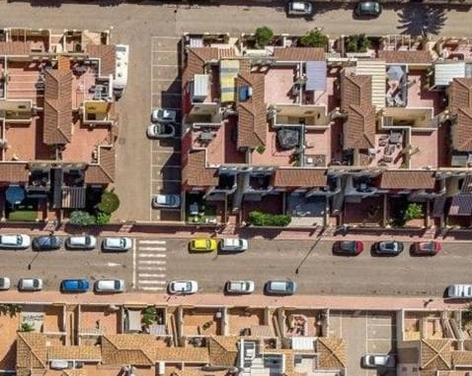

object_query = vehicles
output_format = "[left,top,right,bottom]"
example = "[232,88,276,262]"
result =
[219,238,247,253]
[103,237,131,251]
[373,240,401,255]
[115,43,135,97]
[265,280,294,295]
[34,235,61,250]
[333,240,361,255]
[148,122,176,138]
[169,280,196,295]
[410,240,439,255]
[353,1,382,16]
[190,238,215,252]
[62,278,89,293]
[225,280,253,295]
[95,278,124,294]
[19,277,43,292]
[363,354,393,368]
[150,108,178,122]
[68,235,96,250]
[446,284,472,298]
[0,276,12,291]
[285,0,313,15]
[0,234,29,249]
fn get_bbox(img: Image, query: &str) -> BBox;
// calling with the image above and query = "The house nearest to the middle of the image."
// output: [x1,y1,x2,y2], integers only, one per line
[180,102,303,194]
